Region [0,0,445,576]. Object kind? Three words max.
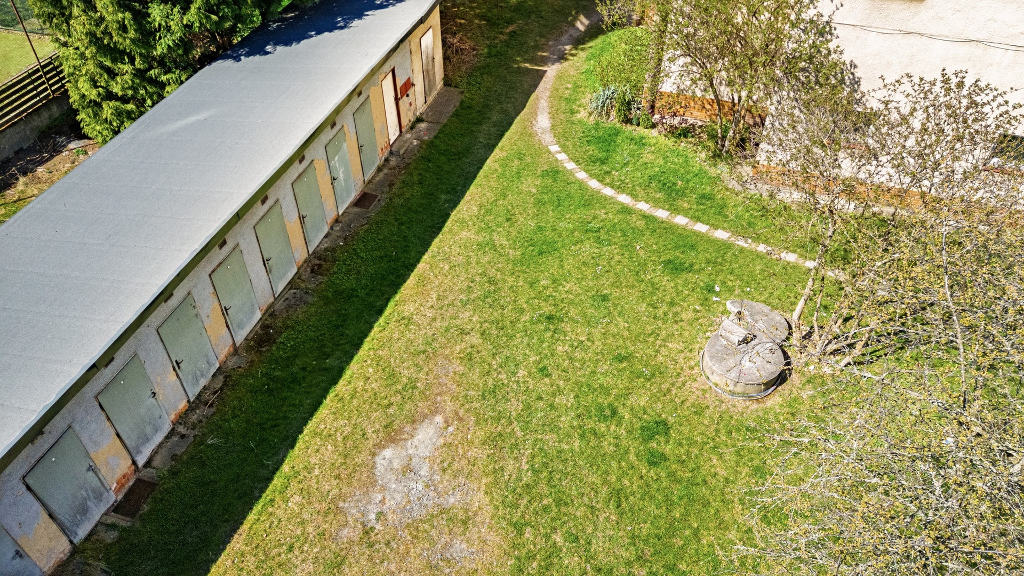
shed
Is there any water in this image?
No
